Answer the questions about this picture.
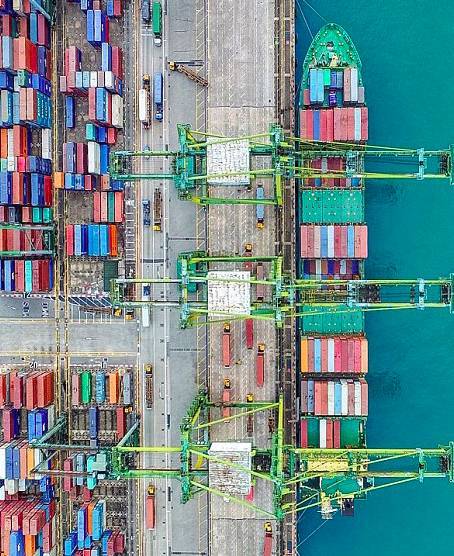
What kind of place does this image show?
port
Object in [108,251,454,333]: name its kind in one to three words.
container crane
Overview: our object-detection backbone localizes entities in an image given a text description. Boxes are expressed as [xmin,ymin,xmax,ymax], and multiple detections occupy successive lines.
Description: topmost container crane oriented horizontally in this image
[107,121,454,217]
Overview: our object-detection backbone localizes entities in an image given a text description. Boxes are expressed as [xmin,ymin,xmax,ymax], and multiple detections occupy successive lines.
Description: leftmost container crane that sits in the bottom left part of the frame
[28,412,140,477]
